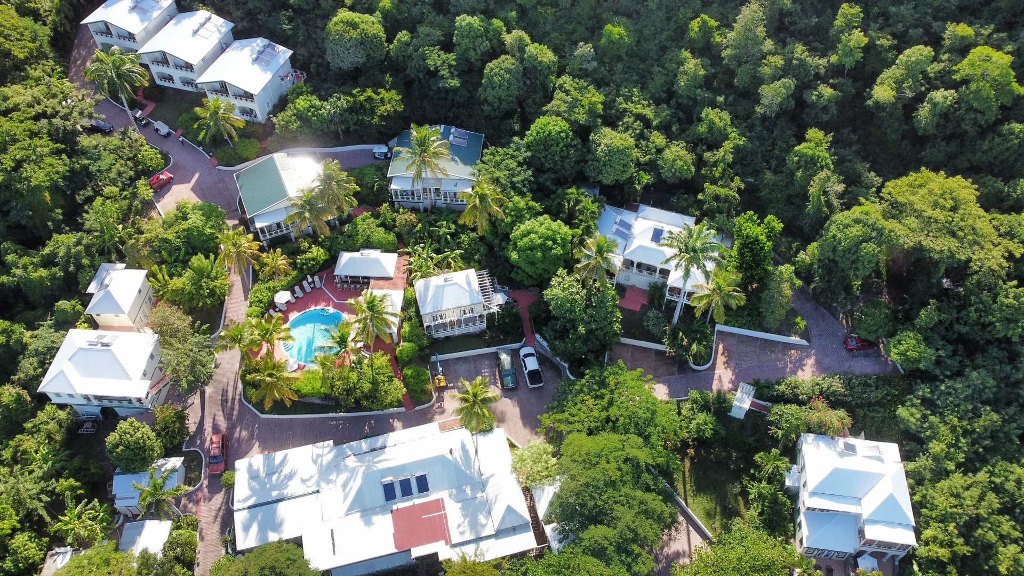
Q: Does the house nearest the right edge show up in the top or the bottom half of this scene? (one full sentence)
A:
Seen from above, the house nearest the right edge lies in the bottom half of the view.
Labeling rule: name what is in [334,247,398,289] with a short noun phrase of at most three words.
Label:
building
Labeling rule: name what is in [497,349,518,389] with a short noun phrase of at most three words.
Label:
car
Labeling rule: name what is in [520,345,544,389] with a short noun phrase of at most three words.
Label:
truck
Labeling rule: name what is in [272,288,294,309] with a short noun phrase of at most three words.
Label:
umbrella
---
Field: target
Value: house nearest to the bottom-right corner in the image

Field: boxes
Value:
[775,433,918,576]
